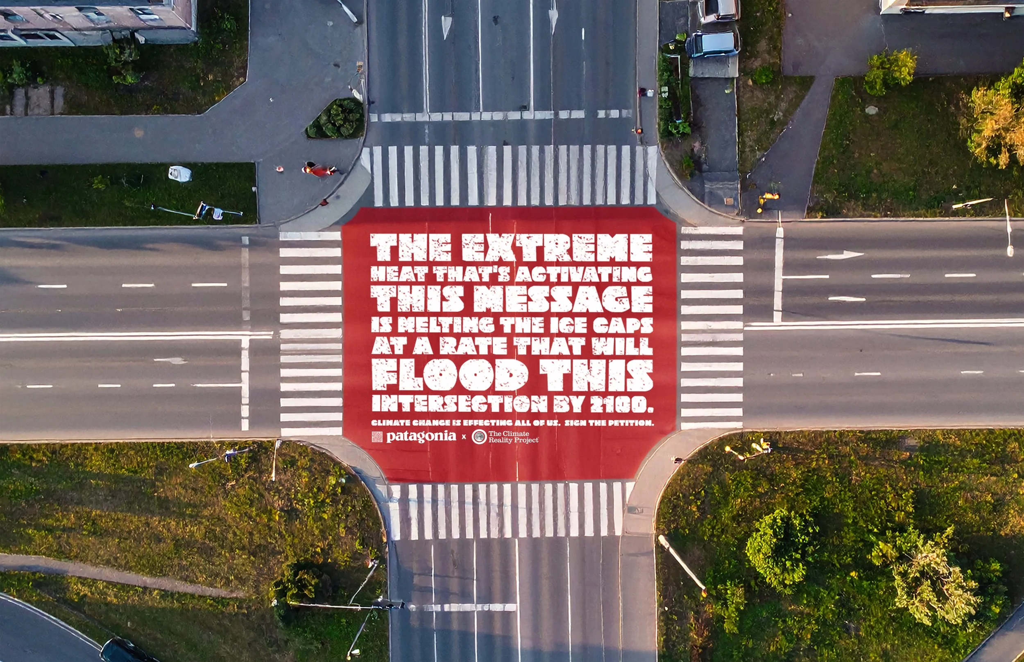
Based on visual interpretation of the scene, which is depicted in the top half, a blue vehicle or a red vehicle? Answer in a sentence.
The one visible in the top half is a blue vehicle.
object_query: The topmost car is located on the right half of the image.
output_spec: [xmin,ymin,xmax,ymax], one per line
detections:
[691,0,752,25]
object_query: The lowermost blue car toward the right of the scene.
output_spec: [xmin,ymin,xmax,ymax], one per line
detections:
[686,28,745,61]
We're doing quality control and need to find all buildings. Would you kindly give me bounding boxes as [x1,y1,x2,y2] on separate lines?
[0,0,200,57]
[881,0,1024,31]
